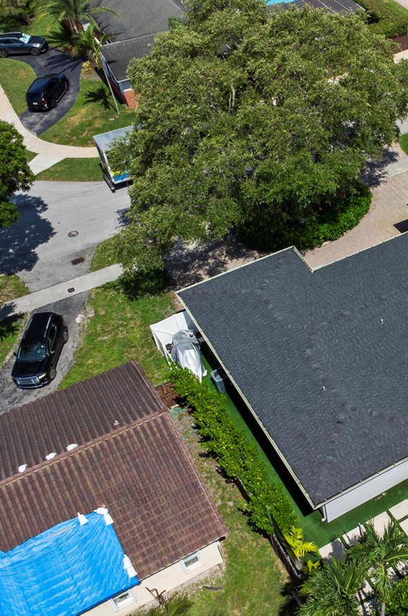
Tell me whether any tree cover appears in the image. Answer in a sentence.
Yes, there is tree cover in the image.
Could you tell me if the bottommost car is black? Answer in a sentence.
Yes, the bottommost car appears black.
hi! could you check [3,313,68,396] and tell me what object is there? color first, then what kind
black car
